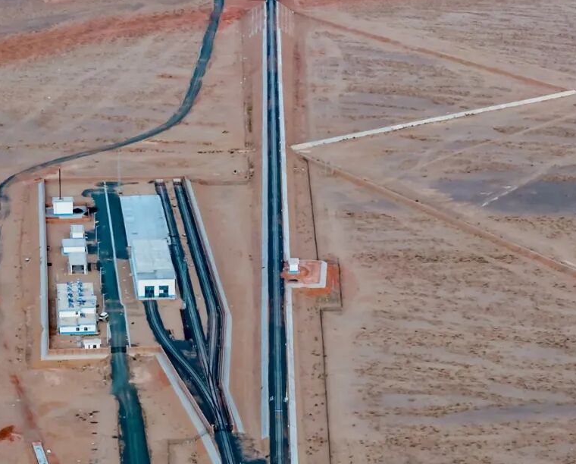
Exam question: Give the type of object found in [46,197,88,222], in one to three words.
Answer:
shed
